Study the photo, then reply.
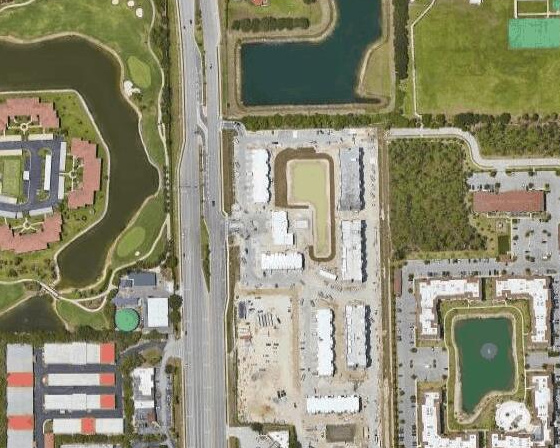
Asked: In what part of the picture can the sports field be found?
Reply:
top right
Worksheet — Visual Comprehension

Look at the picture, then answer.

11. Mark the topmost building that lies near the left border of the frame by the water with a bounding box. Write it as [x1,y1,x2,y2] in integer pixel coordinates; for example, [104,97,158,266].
[0,98,59,131]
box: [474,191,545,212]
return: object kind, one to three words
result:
building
